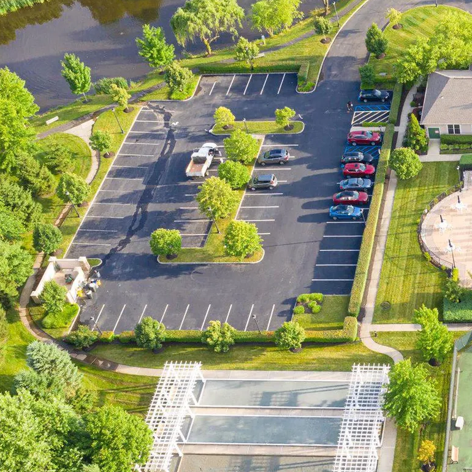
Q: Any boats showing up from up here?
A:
No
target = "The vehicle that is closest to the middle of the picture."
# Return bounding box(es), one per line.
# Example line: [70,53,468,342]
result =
[247,173,278,189]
